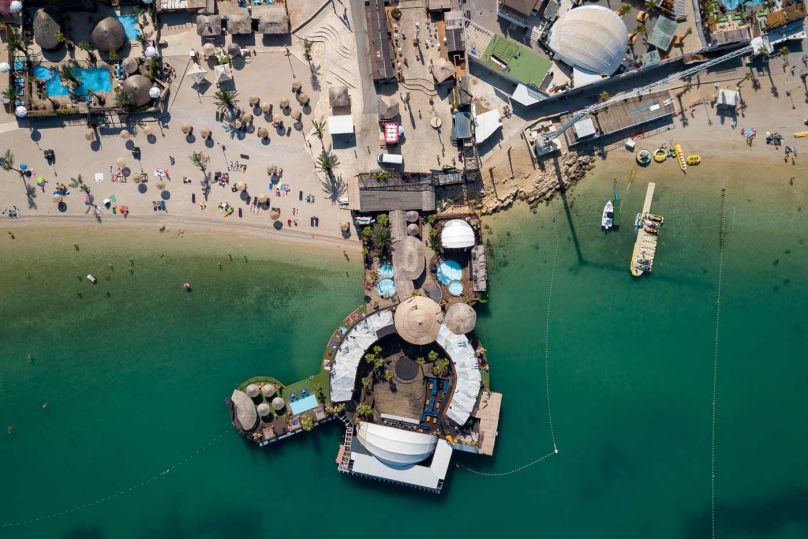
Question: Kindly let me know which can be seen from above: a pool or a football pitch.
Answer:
pool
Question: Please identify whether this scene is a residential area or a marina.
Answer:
marina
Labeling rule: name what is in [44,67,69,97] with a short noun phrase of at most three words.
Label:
swimming pool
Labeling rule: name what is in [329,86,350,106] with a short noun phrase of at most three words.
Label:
shed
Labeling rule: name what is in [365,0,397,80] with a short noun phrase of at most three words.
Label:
building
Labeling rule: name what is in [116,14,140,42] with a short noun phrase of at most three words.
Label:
swimming pool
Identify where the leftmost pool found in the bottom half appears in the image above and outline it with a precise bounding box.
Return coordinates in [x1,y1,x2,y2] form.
[290,394,319,415]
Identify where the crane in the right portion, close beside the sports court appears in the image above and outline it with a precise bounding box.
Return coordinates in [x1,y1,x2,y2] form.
[540,44,757,144]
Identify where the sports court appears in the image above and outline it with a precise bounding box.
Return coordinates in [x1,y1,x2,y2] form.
[466,17,552,89]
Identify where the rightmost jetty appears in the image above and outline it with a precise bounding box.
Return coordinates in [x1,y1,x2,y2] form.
[632,182,664,275]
